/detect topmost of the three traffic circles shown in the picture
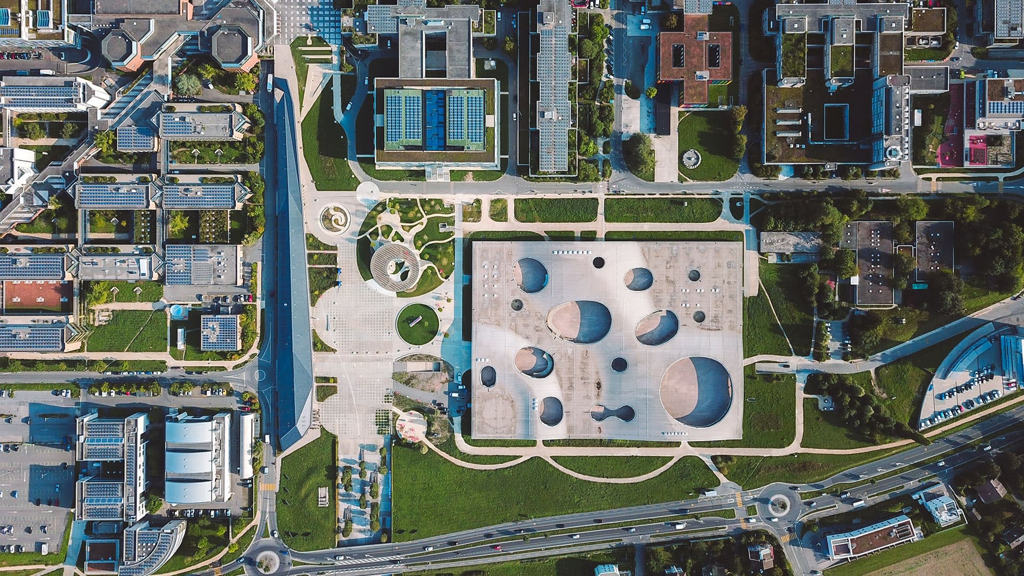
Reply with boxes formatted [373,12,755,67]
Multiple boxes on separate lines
[244,360,275,391]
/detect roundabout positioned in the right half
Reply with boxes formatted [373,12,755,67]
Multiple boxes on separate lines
[758,483,801,527]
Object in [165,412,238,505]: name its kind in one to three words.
building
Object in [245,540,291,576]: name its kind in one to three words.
roundabout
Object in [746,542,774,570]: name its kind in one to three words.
house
